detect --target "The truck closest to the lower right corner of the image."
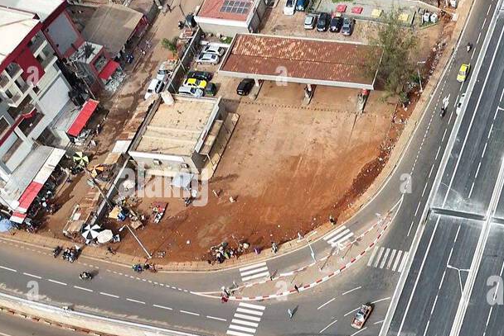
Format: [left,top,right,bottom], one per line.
[351,300,374,332]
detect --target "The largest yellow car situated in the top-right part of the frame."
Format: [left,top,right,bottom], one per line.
[457,63,470,83]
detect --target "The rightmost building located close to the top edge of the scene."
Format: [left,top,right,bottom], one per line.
[194,0,277,42]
